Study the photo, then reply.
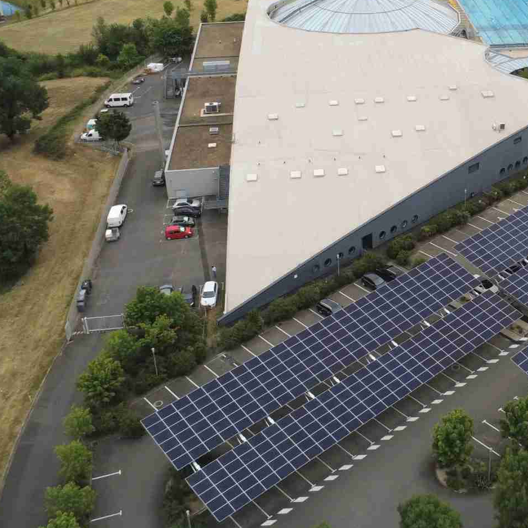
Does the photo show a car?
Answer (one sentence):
Yes, the image includes a car.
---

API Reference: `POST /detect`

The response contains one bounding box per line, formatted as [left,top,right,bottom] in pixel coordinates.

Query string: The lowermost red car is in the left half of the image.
[163,225,195,239]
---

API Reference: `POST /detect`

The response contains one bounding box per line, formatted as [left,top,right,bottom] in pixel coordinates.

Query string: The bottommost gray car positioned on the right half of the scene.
[315,298,344,318]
